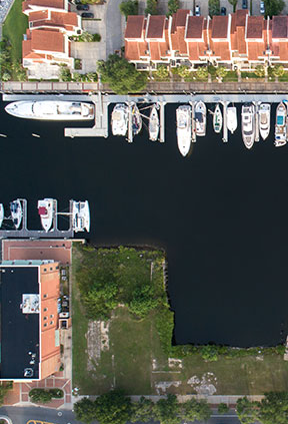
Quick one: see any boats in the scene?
Yes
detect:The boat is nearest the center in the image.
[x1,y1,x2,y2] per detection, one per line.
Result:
[62,200,91,233]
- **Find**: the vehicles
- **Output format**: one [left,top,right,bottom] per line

[220,5,226,16]
[241,0,248,10]
[195,4,200,16]
[81,12,94,18]
[76,3,89,10]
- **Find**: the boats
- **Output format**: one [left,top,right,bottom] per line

[213,103,224,134]
[4,100,95,124]
[0,200,24,230]
[62,200,91,233]
[241,104,256,149]
[259,105,272,142]
[194,101,208,137]
[38,201,55,233]
[275,101,288,142]
[142,103,161,143]
[128,105,144,136]
[226,107,239,133]
[112,103,130,137]
[273,141,287,147]
[0,204,7,228]
[176,106,194,157]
